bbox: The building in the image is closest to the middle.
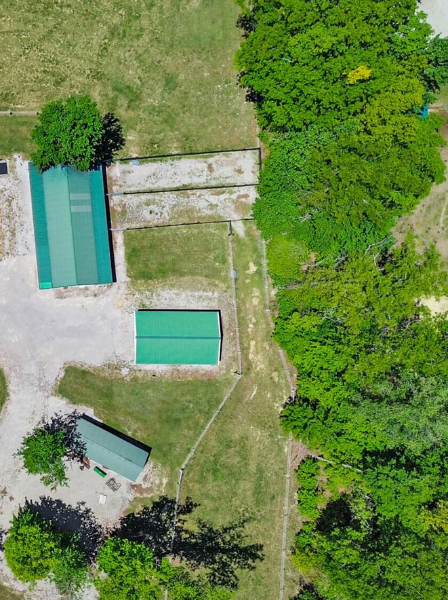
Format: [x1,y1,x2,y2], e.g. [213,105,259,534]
[133,308,222,368]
